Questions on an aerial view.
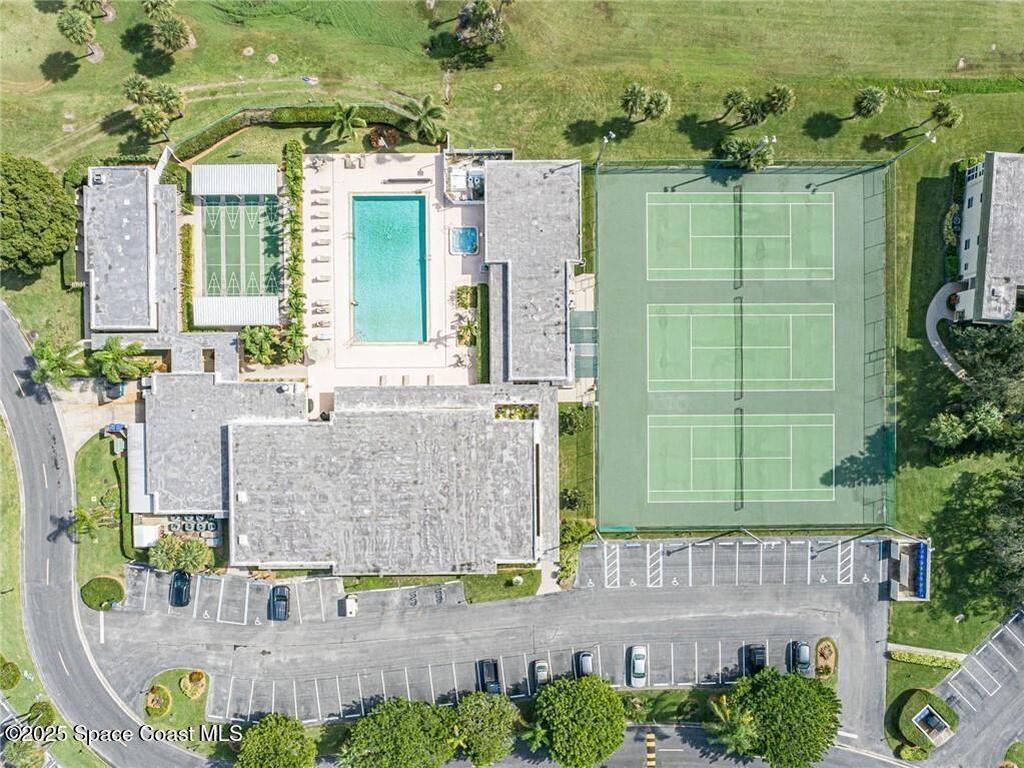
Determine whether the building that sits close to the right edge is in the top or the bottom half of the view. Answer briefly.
top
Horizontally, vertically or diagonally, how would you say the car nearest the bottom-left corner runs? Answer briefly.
vertically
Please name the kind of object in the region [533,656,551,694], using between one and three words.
car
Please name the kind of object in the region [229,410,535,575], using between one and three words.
building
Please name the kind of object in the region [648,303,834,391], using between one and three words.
tennis court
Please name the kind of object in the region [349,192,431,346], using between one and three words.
swimming pool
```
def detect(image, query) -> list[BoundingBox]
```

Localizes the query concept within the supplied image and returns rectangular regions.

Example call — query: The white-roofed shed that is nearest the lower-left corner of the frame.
[134,524,166,547]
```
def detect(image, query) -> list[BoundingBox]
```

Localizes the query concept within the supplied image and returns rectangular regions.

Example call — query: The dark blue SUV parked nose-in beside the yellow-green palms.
[171,568,191,607]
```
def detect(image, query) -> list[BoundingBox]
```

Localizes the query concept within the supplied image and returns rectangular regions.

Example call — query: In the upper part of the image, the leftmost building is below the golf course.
[80,167,169,333]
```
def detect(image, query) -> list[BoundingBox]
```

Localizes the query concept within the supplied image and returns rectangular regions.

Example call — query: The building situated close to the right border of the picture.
[949,151,1024,326]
